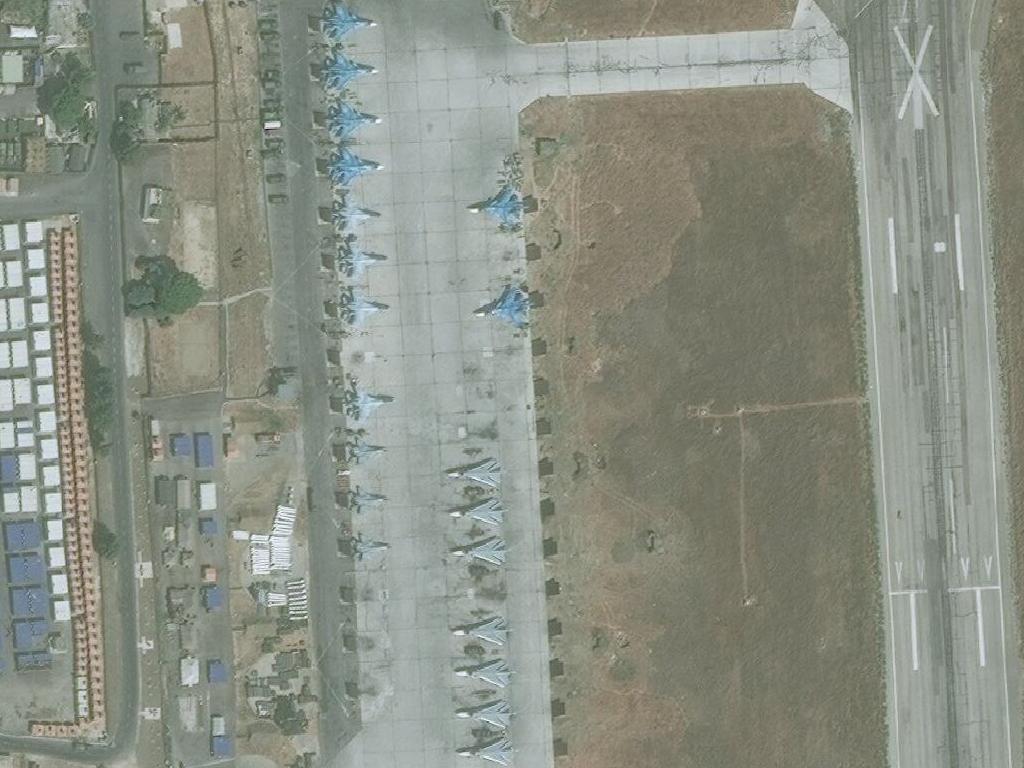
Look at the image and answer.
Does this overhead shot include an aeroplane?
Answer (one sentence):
Yes, there's an aeroplane here.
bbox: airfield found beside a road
[257,0,1023,768]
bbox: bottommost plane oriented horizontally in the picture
[457,740,513,766]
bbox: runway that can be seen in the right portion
[811,0,1023,768]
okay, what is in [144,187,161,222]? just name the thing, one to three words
house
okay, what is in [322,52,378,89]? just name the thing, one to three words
airplane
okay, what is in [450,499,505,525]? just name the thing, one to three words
airplane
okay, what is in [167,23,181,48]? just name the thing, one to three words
building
